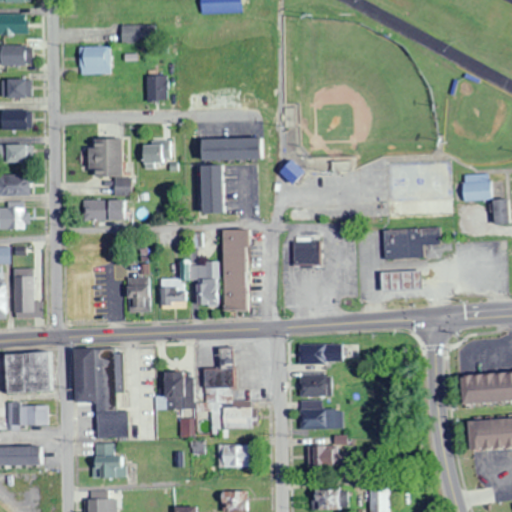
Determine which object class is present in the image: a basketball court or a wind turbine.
basketball court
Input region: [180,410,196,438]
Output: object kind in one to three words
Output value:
shed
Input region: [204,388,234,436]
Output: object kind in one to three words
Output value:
building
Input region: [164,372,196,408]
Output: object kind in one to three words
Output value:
house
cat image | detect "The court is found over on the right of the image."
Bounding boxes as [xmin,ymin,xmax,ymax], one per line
[389,162,454,218]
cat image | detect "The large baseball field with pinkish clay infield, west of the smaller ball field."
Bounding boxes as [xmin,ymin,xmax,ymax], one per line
[284,16,438,162]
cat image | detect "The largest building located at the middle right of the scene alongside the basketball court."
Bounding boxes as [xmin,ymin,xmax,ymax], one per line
[384,228,441,260]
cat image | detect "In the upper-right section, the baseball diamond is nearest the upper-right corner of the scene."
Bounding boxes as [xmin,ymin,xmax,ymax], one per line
[444,75,512,168]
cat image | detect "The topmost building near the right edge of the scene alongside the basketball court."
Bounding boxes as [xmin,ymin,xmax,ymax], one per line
[462,174,494,202]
